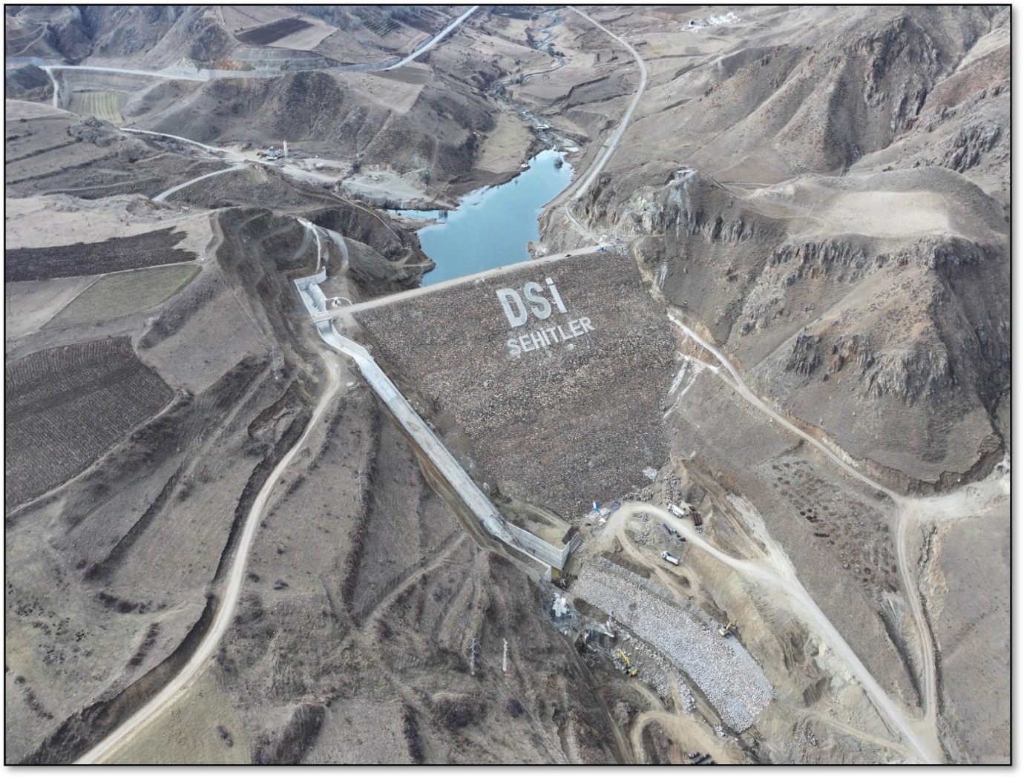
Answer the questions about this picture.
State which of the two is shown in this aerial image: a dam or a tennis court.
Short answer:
dam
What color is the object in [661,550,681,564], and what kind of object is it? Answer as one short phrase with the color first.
white vehicle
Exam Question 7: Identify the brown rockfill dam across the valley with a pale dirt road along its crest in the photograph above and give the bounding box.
[328,242,679,529]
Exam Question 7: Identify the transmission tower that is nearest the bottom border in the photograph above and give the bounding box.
[464,634,479,674]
